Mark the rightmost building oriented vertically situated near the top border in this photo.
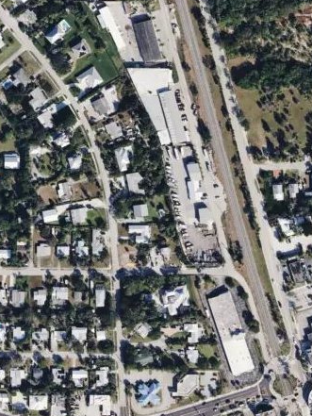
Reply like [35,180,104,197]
[133,19,160,63]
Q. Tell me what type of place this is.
residential area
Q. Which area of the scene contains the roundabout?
bottom right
